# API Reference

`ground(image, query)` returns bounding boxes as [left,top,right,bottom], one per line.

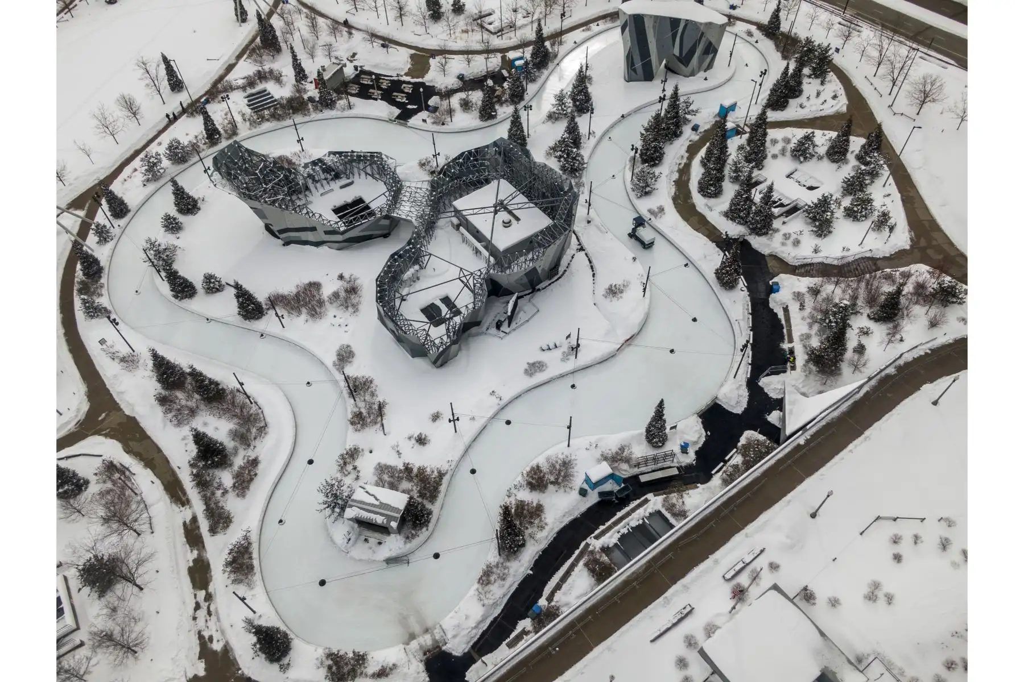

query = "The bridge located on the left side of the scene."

[388,180,429,219]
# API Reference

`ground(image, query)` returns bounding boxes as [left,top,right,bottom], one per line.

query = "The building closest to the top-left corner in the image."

[319,60,348,89]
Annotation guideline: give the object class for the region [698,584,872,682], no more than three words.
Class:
building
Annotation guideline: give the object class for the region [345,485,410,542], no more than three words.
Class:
shed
